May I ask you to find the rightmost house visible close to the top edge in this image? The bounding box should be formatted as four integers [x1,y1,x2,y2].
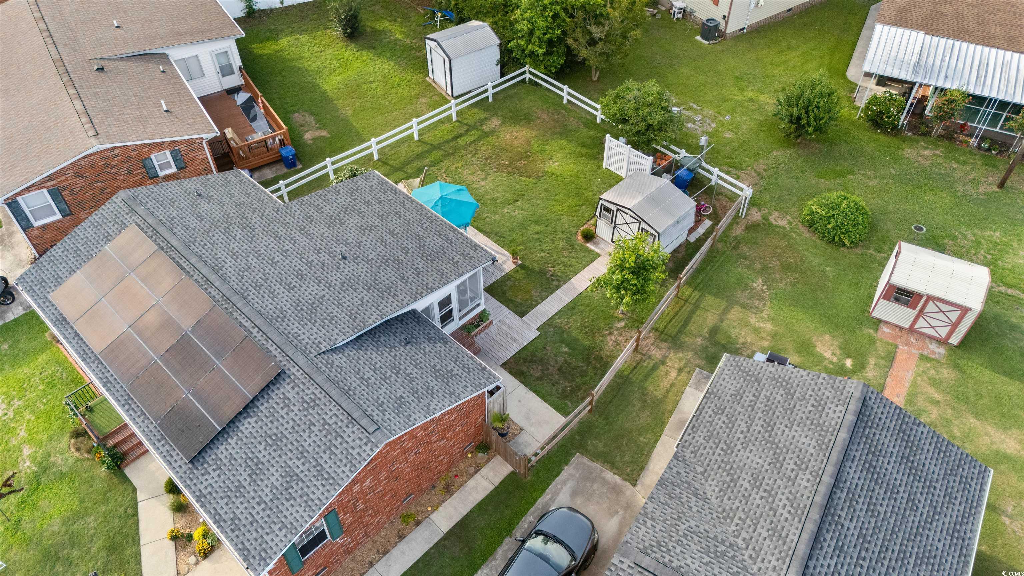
[854,0,1024,154]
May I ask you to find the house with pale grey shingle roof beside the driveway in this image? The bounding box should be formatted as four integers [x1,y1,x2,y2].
[605,355,998,576]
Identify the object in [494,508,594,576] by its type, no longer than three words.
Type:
car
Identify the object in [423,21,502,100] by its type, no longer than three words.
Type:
shed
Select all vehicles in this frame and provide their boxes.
[494,508,594,576]
[0,273,12,305]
